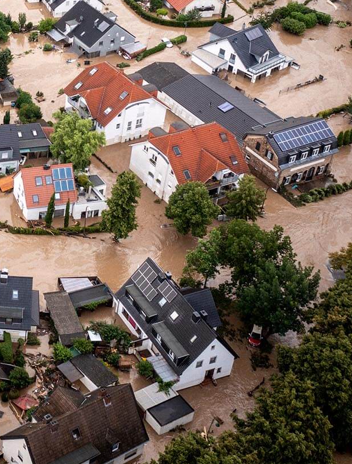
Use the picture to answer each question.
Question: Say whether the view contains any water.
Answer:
Yes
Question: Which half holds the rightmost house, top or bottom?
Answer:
top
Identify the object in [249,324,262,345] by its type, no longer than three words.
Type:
vehicle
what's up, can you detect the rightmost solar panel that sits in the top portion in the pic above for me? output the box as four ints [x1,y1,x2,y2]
[271,118,336,160]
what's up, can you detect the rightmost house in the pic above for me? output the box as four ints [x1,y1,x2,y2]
[243,116,338,188]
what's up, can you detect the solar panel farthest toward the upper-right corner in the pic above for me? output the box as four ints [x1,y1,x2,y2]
[243,26,266,44]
